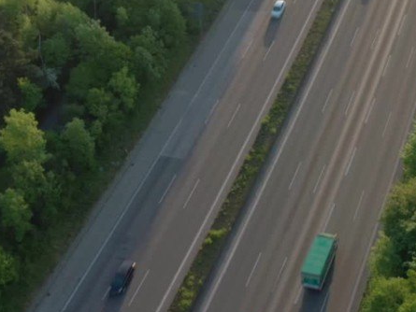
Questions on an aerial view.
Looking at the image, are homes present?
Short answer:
No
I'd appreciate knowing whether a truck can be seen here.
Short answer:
Yes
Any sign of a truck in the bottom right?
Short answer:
Yes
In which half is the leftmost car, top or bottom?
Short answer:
bottom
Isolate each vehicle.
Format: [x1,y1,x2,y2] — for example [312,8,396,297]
[301,233,341,293]
[270,1,286,19]
[110,262,137,293]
